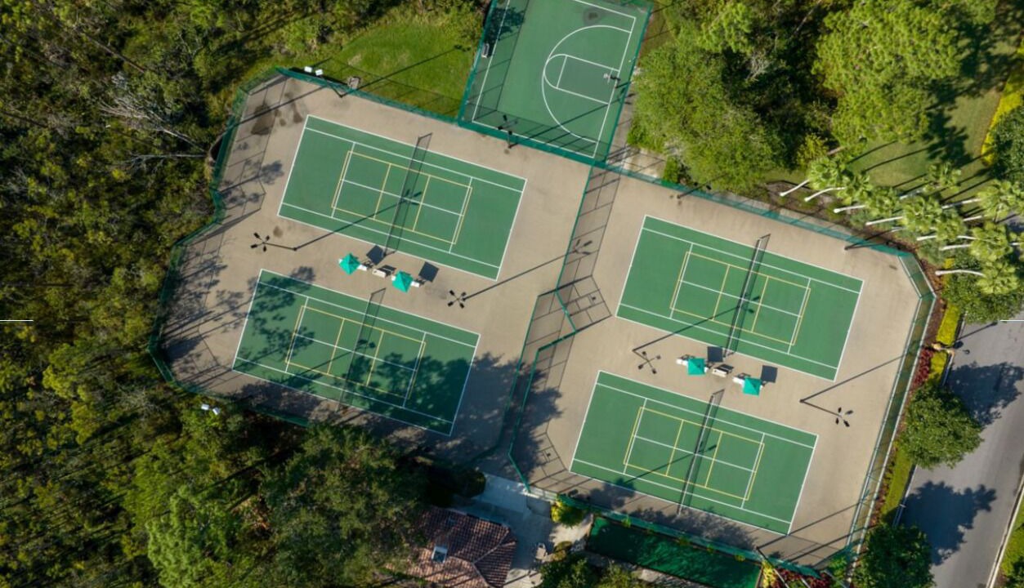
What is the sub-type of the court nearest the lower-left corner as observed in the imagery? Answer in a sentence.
The court nearest the lower-left corner appears to be a tennis court.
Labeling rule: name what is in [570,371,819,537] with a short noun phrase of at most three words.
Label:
tennis court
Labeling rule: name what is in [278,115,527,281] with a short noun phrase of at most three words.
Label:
tennis court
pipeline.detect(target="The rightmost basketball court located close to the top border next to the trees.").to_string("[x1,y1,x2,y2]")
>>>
[459,0,652,163]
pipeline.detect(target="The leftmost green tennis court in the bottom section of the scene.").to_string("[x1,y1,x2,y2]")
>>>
[231,270,480,436]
